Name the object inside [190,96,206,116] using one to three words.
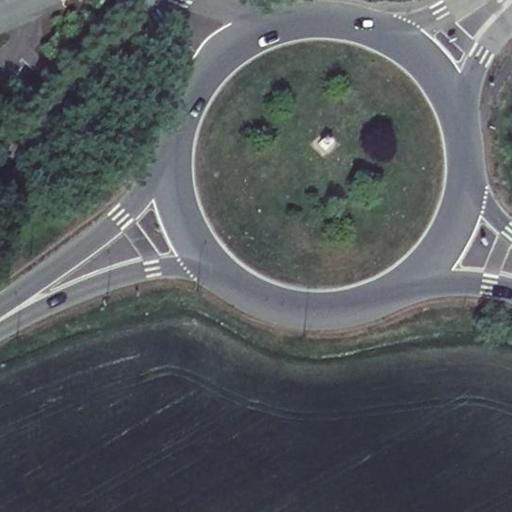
car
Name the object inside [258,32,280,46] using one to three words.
car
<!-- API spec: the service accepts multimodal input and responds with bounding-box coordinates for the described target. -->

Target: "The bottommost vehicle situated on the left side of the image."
[46,292,68,306]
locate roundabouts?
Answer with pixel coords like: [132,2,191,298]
[144,2,487,328]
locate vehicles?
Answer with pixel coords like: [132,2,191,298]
[258,32,280,46]
[46,292,68,306]
[190,96,206,116]
[354,18,374,28]
[492,286,512,298]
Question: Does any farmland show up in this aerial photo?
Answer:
Yes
